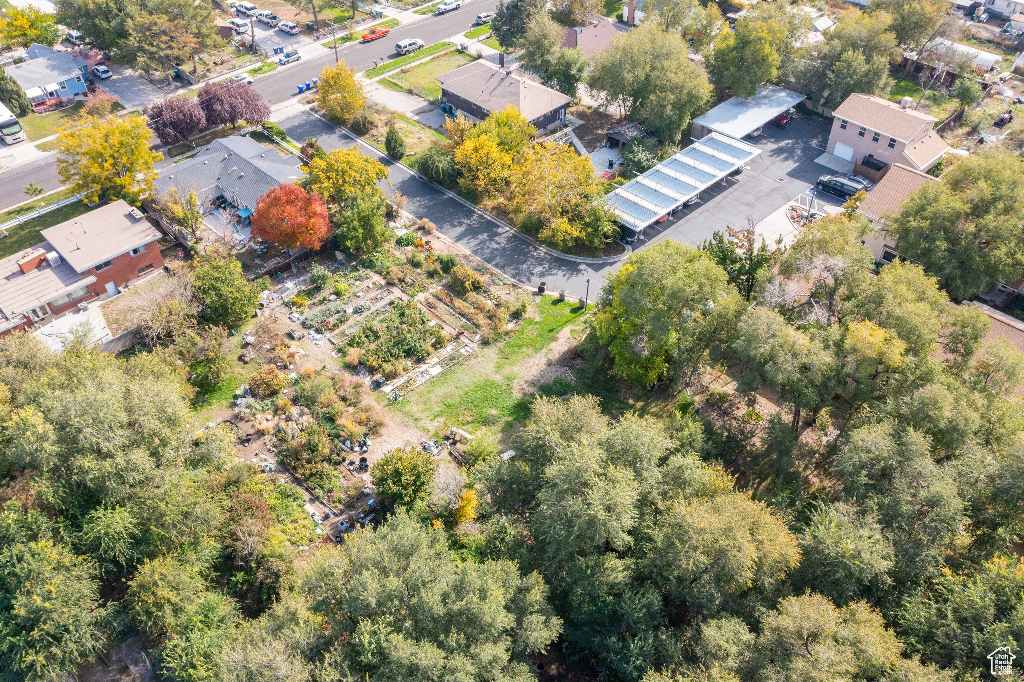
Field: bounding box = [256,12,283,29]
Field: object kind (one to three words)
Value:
vehicle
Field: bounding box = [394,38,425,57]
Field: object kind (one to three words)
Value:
car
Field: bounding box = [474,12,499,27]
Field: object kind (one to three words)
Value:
car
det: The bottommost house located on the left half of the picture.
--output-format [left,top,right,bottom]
[0,200,166,355]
